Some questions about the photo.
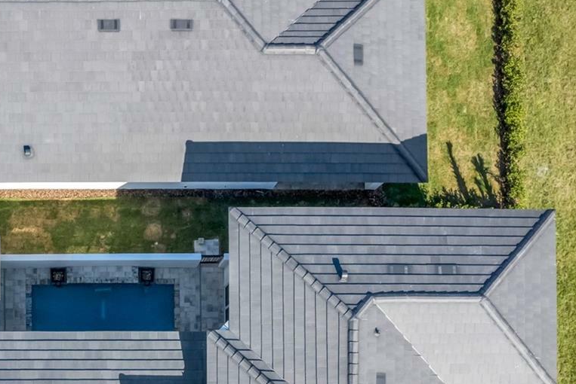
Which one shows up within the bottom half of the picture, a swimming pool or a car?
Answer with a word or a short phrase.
swimming pool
